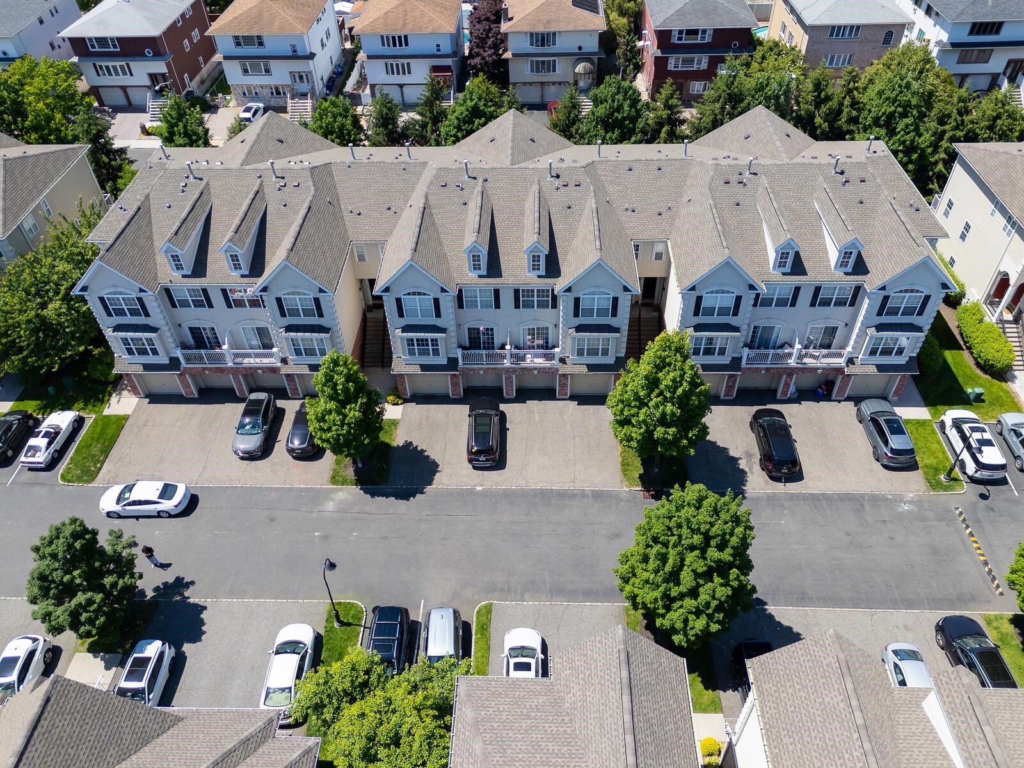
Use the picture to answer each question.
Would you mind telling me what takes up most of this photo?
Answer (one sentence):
The bulk of the photo consists of buildings.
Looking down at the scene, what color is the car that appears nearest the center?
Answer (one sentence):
The car that appears nearest the center looks black in the image.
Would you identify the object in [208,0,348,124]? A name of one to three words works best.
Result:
house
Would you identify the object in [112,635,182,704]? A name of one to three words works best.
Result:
car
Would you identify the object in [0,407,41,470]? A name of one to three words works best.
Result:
car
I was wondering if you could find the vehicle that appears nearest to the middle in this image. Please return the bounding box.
[464,399,504,466]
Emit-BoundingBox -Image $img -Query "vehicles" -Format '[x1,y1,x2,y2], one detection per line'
[97,483,193,525]
[940,410,1009,480]
[874,640,929,684]
[499,628,550,675]
[285,401,325,464]
[230,389,286,459]
[112,635,182,704]
[856,400,917,467]
[0,636,52,704]
[932,617,1012,689]
[423,606,467,671]
[749,408,801,479]
[0,407,41,470]
[353,608,414,689]
[256,623,317,731]
[731,649,769,710]
[237,101,271,127]
[18,413,80,472]
[464,399,504,466]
